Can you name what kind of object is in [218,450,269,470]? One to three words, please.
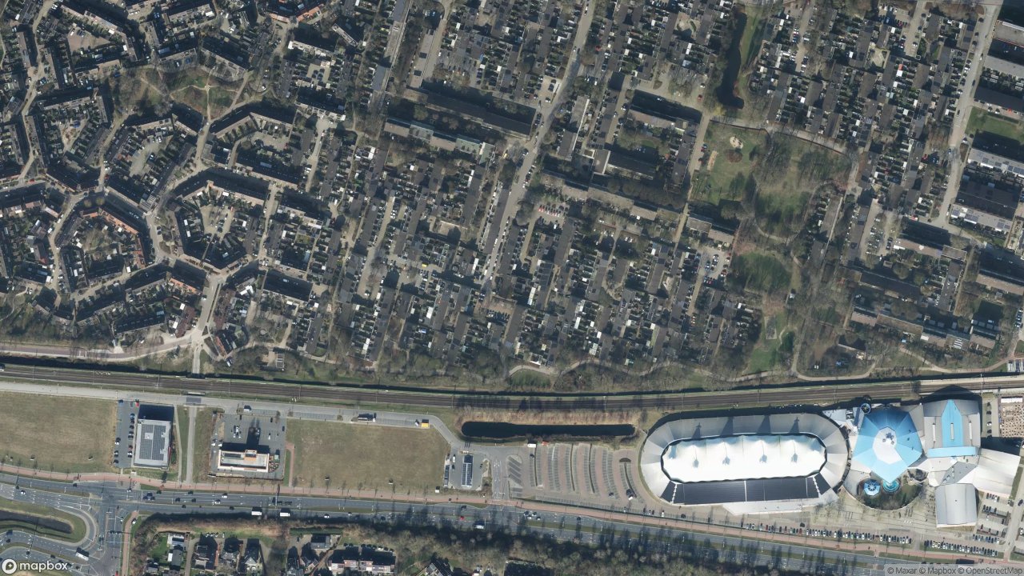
building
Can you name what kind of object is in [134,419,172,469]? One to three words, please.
building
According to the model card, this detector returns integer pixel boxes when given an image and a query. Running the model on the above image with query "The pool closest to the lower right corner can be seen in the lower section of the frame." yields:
[882,479,900,493]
